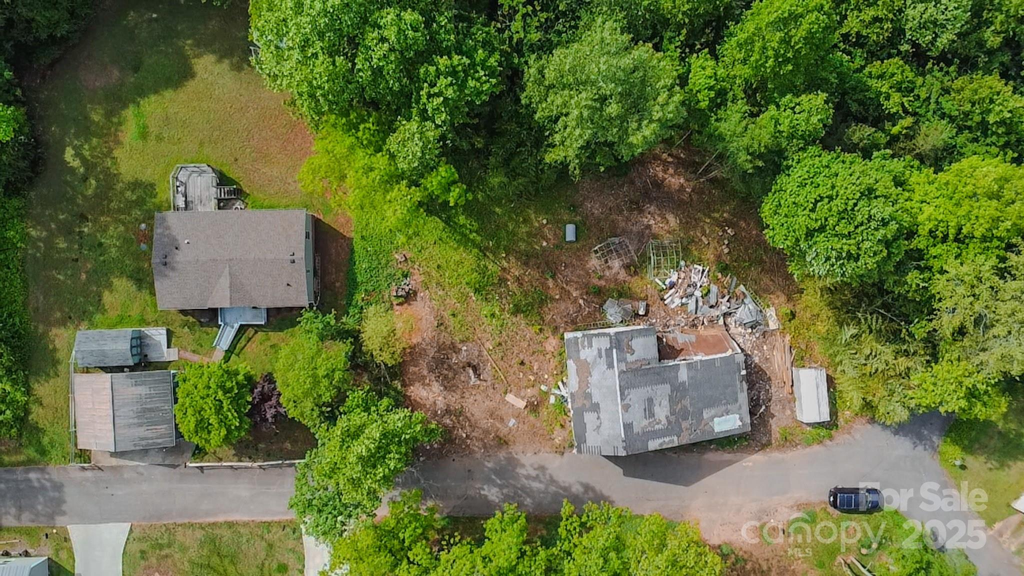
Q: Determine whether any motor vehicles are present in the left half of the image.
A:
No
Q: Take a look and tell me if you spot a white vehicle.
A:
No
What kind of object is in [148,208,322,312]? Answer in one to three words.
house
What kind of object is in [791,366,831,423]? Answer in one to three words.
shed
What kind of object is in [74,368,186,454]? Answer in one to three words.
building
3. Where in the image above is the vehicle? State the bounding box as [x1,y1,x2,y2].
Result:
[827,487,881,513]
